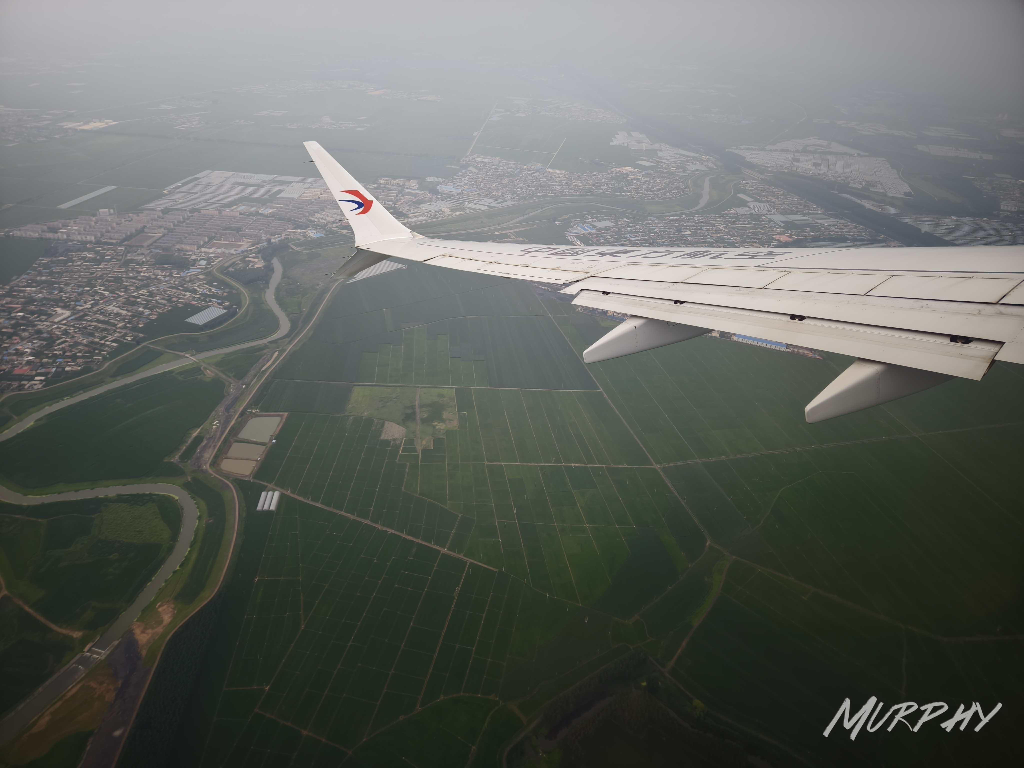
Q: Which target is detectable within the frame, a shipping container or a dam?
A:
dam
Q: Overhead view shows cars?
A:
No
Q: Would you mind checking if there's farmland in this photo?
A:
Yes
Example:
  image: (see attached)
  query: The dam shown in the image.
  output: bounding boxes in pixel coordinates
[17,635,122,717]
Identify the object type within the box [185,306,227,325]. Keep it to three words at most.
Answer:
greenhouse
